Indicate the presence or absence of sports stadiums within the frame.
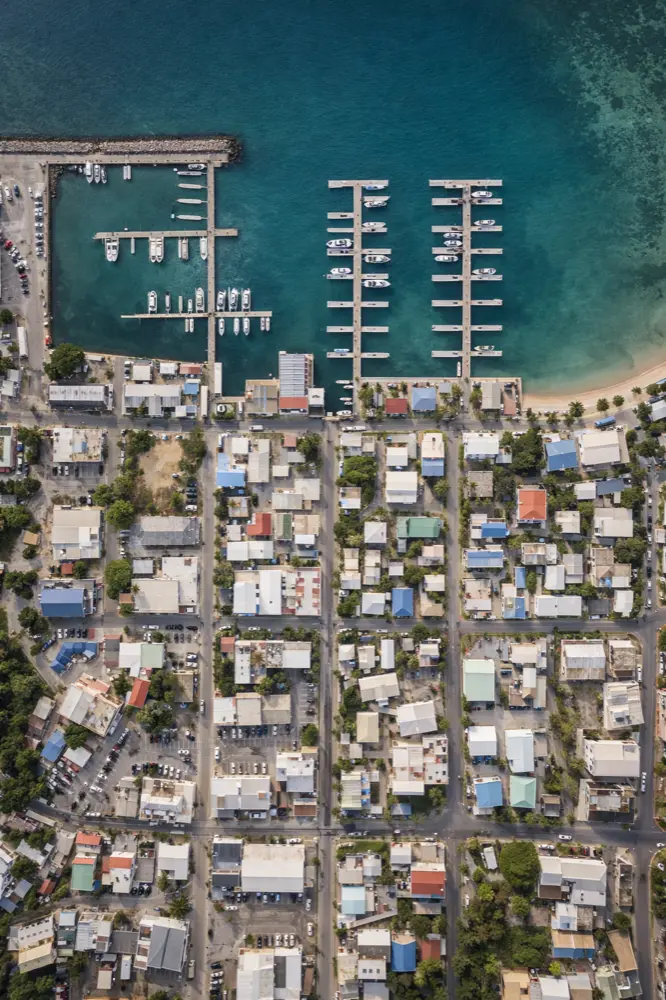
No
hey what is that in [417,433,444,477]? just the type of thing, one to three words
house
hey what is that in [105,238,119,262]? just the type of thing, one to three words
boat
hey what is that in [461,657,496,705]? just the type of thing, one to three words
building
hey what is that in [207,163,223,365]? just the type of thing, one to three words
pier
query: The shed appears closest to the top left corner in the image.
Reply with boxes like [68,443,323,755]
[17,327,29,357]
